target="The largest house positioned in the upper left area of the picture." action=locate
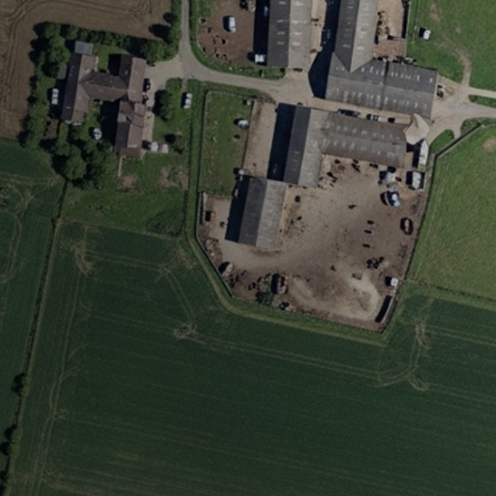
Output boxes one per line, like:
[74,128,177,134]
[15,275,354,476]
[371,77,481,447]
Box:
[60,51,148,159]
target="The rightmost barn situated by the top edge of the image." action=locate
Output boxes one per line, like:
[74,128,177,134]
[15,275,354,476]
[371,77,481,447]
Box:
[323,0,439,117]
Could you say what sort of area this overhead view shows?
farmland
